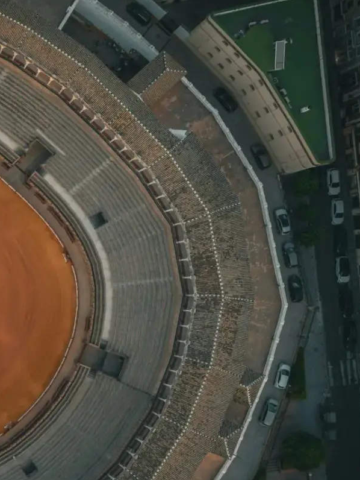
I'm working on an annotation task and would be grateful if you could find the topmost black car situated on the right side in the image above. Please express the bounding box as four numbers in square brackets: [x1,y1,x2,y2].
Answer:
[213,86,237,113]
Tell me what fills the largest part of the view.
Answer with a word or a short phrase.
buildings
